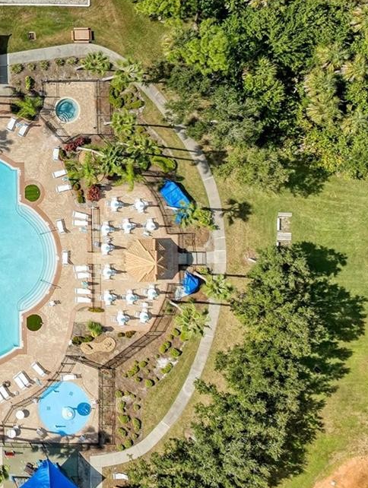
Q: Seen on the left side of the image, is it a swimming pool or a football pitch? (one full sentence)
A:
What appears on the left side of the image is a swimming pool.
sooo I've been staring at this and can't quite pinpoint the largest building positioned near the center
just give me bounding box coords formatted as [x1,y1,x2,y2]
[121,237,171,284]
